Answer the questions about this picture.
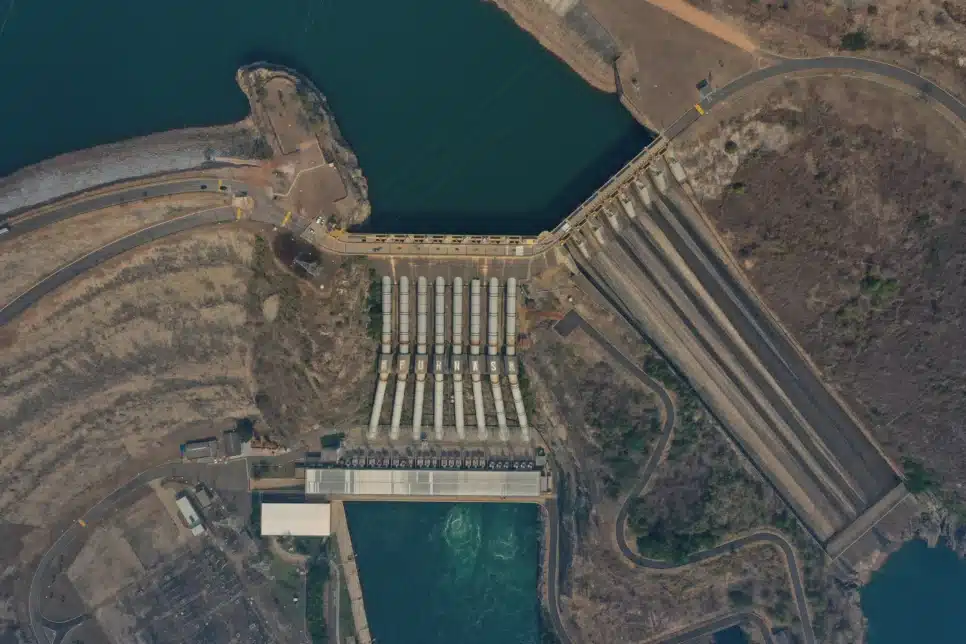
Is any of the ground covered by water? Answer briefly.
Yes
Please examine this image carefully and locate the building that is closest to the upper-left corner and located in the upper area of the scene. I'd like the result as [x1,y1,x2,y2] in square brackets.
[232,195,254,211]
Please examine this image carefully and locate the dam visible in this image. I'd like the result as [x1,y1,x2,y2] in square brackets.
[295,222,571,288]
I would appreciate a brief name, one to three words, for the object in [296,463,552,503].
building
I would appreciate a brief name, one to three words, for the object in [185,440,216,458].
building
